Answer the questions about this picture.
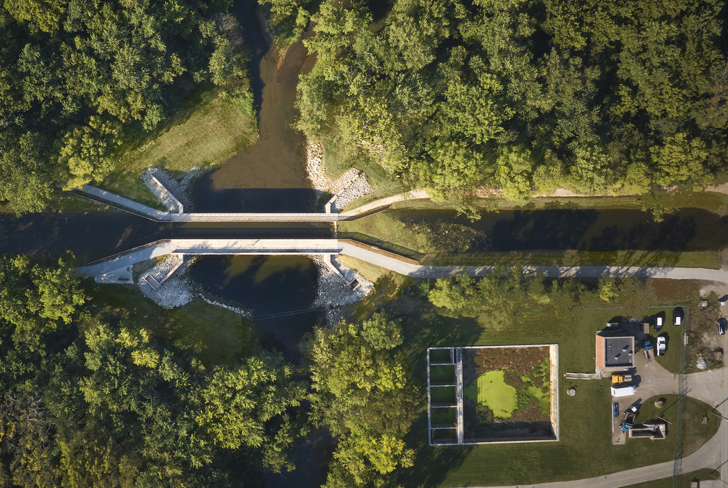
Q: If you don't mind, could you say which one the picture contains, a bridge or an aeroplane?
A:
bridge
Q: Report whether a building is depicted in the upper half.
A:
No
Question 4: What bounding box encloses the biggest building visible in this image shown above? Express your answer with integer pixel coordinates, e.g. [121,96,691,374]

[595,334,634,371]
